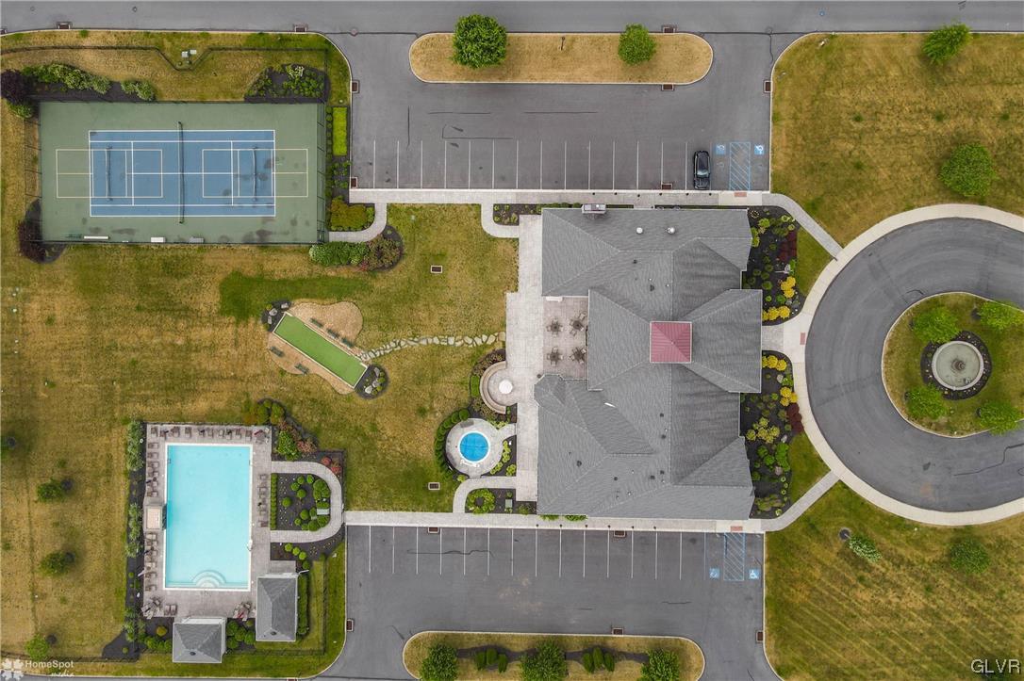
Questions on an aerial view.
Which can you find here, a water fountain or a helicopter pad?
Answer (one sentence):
Looking from above, you can make out a water fountain.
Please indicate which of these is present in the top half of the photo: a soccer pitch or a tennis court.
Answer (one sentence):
Visible in the top half of the photo is a tennis court.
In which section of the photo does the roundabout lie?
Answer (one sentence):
Look in the right portion of the view to spot the roundabout.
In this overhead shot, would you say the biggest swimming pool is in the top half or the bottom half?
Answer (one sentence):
The biggest swimming pool is in the bottom half of the image.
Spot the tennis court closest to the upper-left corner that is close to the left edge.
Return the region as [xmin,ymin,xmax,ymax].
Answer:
[40,101,326,243]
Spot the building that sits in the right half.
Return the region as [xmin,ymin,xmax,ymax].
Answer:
[534,205,761,520]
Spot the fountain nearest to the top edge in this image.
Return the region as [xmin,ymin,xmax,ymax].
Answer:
[933,340,988,392]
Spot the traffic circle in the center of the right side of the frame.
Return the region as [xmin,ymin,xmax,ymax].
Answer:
[805,217,1024,512]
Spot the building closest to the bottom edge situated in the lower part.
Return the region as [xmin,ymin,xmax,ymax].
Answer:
[172,618,227,664]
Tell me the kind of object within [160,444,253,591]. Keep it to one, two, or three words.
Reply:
swimming pool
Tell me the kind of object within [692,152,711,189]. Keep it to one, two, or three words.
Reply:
car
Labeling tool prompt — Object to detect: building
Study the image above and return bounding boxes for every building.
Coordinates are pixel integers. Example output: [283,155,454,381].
[255,573,300,642]
[534,205,761,520]
[172,618,227,664]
